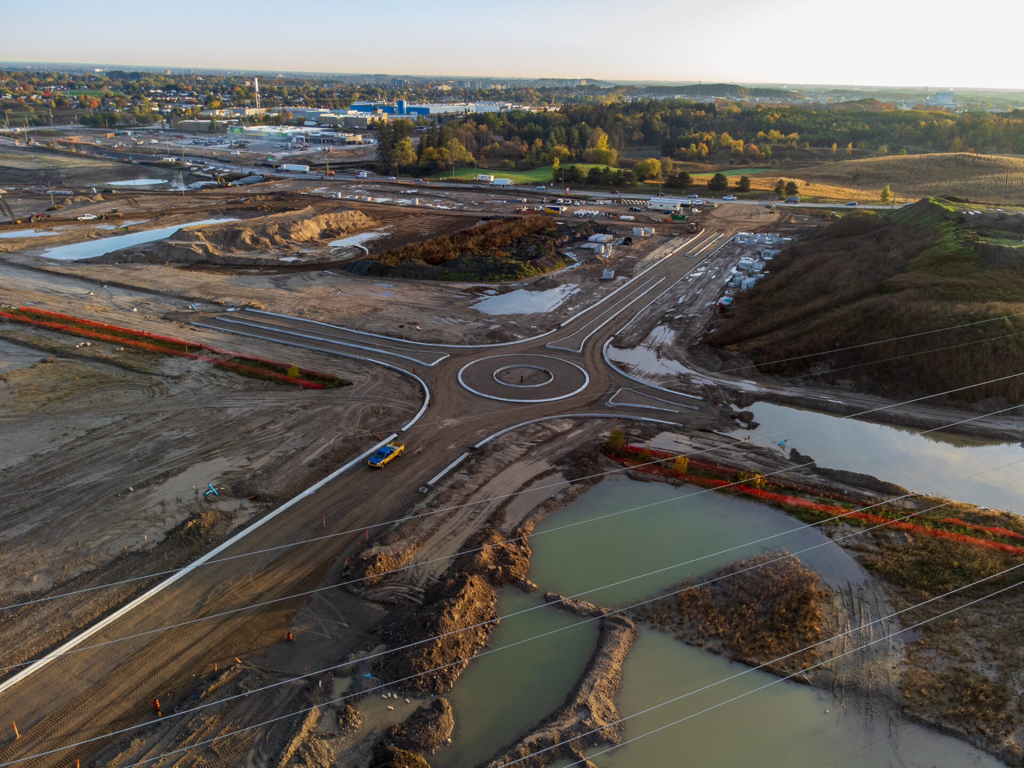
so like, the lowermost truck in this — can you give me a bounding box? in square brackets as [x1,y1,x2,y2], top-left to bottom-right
[365,439,406,466]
